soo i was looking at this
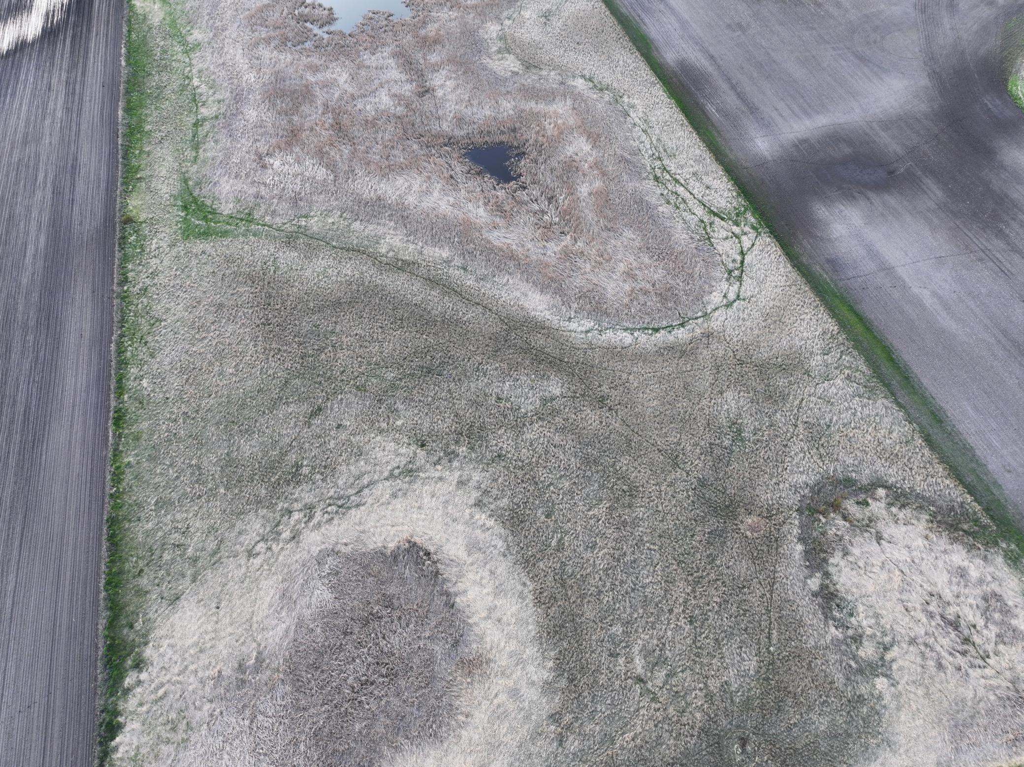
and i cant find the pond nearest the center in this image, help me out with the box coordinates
[461,142,530,187]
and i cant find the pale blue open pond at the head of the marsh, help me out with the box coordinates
[284,0,414,47]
